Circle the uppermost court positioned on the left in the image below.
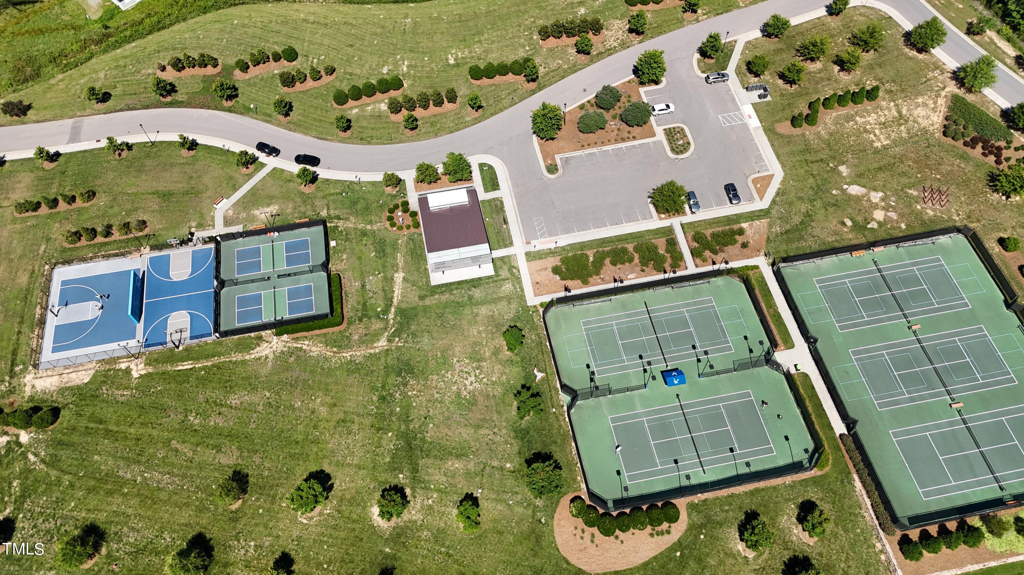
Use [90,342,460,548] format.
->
[220,226,326,284]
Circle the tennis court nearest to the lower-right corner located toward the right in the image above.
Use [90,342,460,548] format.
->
[861,405,1024,517]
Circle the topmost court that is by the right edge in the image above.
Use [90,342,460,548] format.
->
[781,234,1020,348]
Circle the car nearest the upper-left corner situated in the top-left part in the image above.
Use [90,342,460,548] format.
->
[256,142,279,157]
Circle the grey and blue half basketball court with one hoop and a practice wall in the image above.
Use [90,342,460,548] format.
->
[39,257,141,370]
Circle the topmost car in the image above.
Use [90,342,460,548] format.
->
[706,72,730,84]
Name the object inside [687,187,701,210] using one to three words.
car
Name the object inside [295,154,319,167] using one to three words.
vehicle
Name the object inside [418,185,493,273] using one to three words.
building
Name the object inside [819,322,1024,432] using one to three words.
tennis court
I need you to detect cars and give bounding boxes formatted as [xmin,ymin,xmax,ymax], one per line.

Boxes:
[256,142,279,157]
[724,181,741,204]
[651,103,675,116]
[687,187,701,210]
[295,154,319,167]
[706,72,730,84]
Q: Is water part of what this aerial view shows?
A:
No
